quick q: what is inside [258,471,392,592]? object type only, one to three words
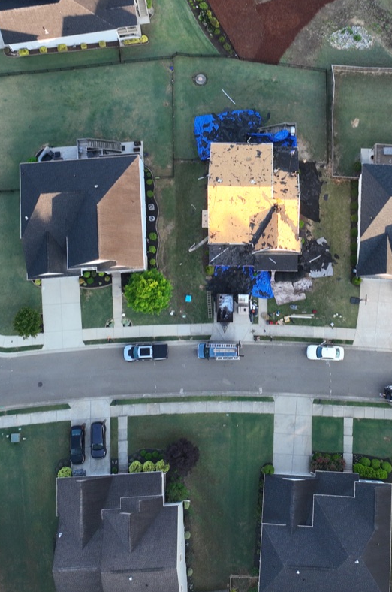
house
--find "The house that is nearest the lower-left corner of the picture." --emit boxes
[52,472,183,592]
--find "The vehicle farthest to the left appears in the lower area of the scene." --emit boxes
[69,424,87,466]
